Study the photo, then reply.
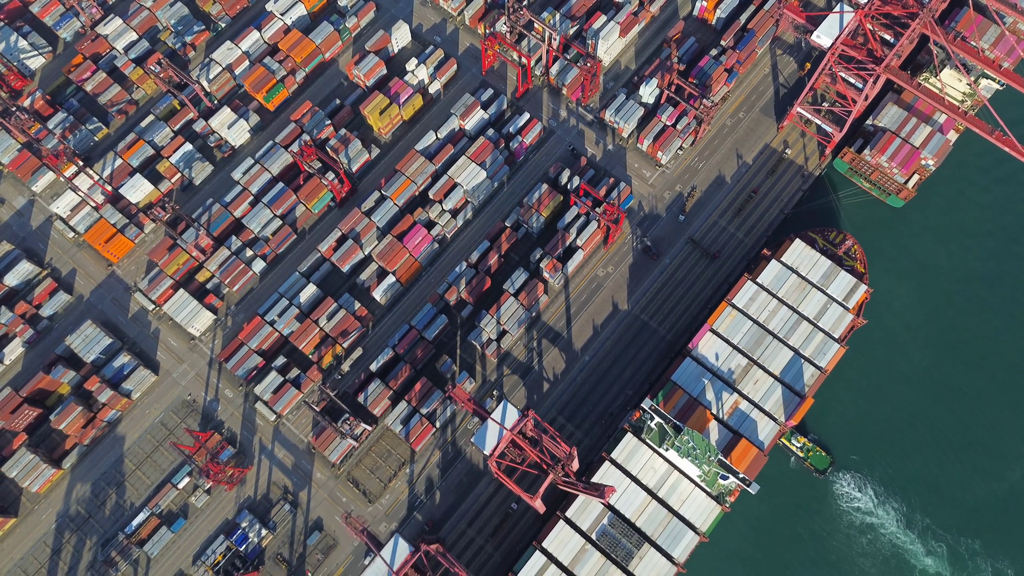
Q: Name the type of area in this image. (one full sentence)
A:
This looks like a port.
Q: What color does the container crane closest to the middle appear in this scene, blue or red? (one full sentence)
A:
The color of the container crane closest to the middle is red.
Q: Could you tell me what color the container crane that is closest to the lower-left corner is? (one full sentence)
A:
In this view, the container crane that is closest to the lower-left corner is red.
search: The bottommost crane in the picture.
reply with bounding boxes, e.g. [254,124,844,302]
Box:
[326,497,489,576]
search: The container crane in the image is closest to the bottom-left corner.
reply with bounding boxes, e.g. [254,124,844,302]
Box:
[166,425,251,496]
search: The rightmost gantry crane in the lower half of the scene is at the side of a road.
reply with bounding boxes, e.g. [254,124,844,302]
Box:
[438,370,624,523]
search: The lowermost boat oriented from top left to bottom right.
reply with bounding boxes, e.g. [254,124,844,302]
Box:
[776,427,835,479]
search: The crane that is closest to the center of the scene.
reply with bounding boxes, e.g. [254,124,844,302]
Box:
[564,180,630,251]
